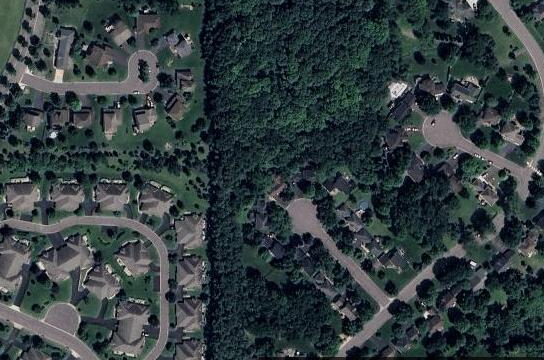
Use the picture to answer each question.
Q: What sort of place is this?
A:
residential area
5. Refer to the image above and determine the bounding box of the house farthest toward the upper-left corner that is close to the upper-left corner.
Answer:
[53,32,71,72]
